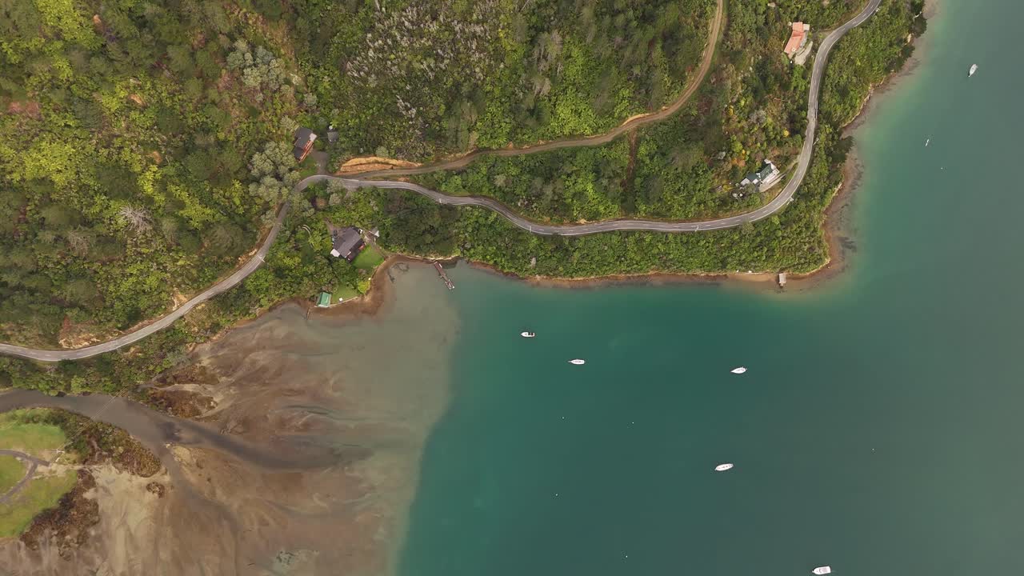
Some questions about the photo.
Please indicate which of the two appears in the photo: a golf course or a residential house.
residential house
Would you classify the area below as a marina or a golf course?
marina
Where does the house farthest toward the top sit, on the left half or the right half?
right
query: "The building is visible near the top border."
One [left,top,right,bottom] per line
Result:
[784,22,810,59]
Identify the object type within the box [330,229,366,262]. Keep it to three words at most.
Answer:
house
